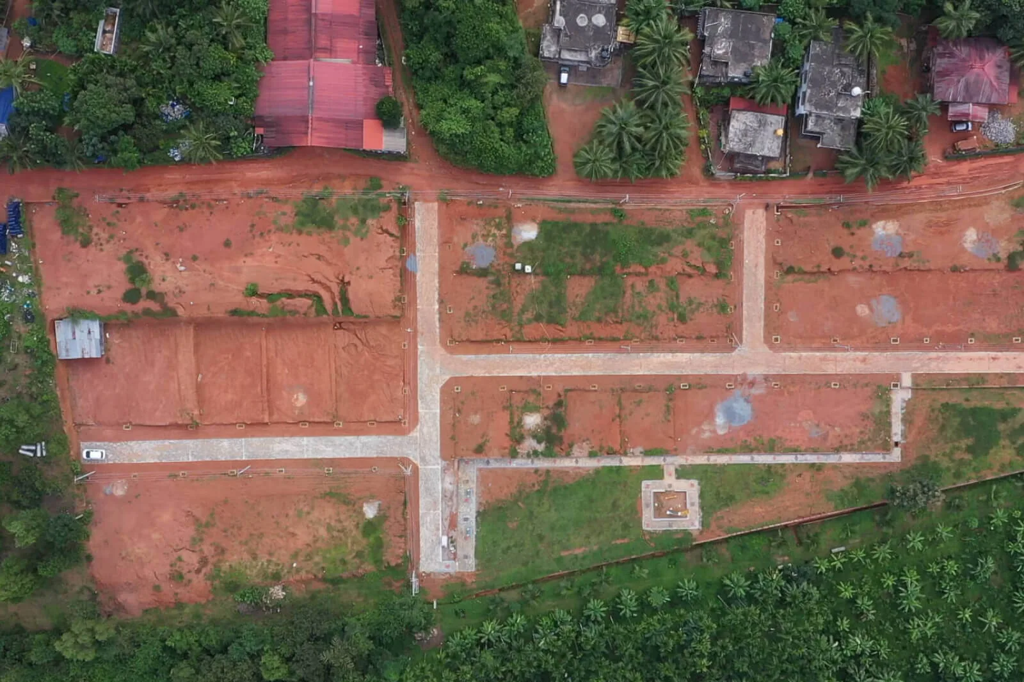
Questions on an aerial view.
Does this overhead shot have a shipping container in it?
No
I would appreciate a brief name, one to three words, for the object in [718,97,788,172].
house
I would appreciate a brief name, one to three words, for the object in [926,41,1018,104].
house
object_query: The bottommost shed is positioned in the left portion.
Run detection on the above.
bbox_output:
[55,318,105,359]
